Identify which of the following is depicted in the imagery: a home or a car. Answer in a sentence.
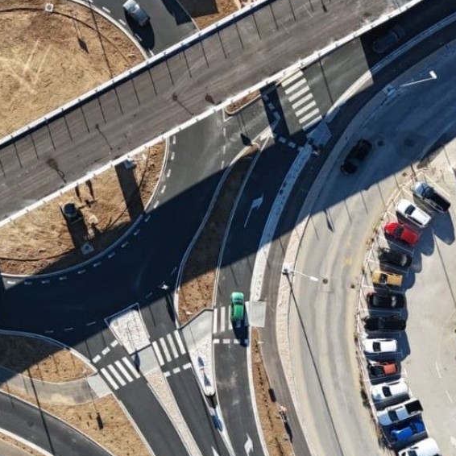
It is a car that can be seen here.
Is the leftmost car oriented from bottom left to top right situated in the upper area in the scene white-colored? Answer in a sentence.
No, the leftmost car oriented from bottom left to top right situated in the upper area is black.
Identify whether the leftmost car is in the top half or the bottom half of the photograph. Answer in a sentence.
The top half of the photo is where the leftmost car is.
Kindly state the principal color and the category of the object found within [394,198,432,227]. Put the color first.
white car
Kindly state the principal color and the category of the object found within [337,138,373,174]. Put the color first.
black car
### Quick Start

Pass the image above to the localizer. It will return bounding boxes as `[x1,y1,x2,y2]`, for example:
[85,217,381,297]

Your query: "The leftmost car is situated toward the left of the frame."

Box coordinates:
[123,0,150,28]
